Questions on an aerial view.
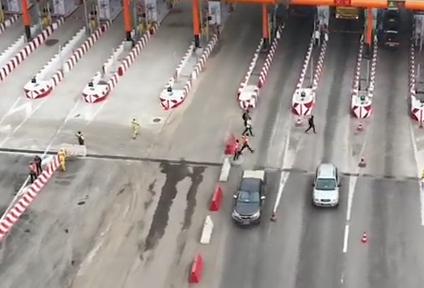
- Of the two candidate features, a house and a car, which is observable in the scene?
car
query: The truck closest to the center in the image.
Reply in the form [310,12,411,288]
[236,162,273,217]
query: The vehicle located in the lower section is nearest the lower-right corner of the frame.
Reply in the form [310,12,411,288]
[312,155,344,203]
